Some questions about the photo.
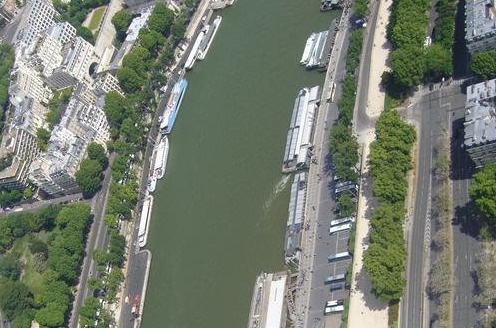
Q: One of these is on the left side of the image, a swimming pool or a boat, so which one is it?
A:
boat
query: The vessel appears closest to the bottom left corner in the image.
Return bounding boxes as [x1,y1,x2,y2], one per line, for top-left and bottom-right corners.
[137,195,155,247]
